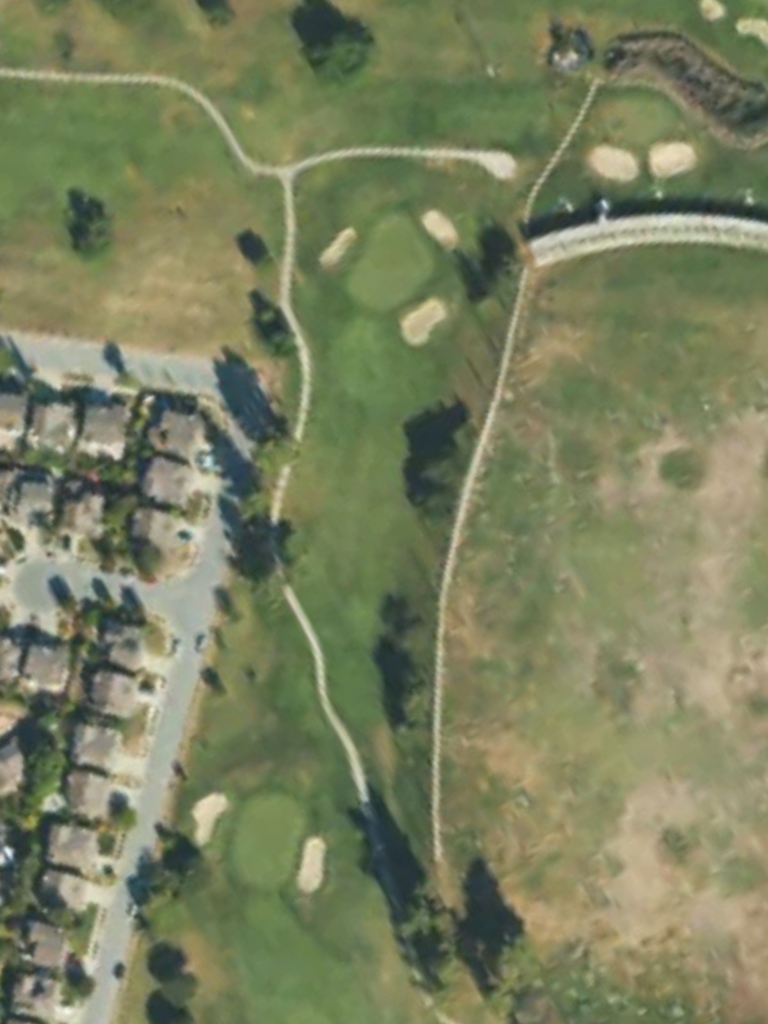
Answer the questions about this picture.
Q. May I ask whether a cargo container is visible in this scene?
No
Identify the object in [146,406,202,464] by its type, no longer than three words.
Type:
house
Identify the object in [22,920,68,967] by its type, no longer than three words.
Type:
house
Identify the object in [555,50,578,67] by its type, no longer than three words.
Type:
shed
